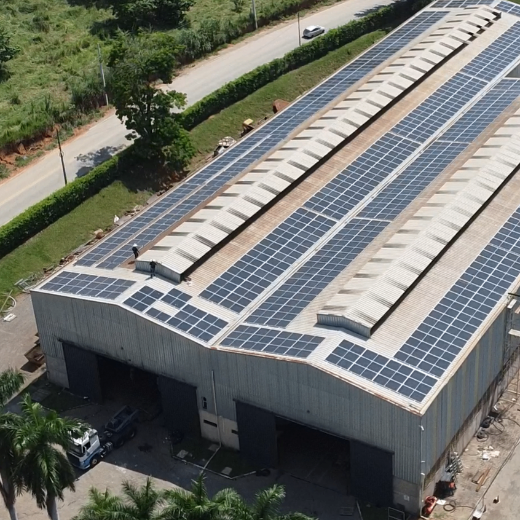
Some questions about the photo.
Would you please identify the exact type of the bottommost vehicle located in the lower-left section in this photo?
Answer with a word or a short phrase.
truck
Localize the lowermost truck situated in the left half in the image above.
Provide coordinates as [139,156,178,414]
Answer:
[67,404,152,475]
